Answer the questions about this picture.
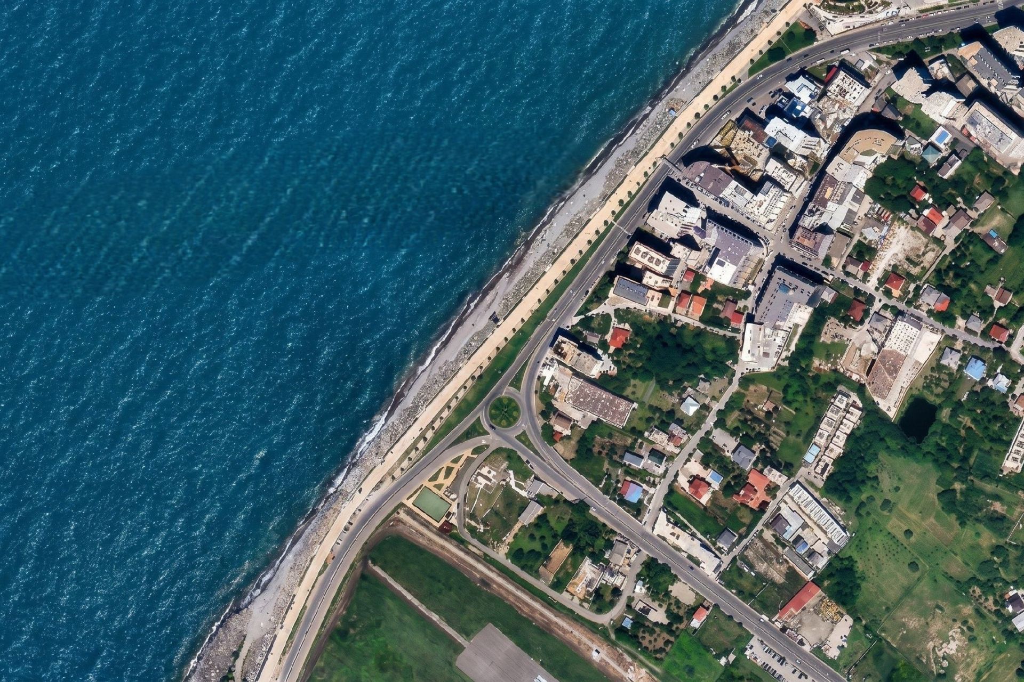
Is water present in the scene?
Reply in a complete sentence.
Yes, some water is visible.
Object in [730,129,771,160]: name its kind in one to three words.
building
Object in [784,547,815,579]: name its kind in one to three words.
house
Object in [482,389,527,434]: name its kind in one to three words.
roundabout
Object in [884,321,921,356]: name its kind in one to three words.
building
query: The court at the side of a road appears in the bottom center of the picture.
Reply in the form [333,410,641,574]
[412,486,452,523]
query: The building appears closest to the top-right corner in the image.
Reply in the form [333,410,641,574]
[993,26,1024,61]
